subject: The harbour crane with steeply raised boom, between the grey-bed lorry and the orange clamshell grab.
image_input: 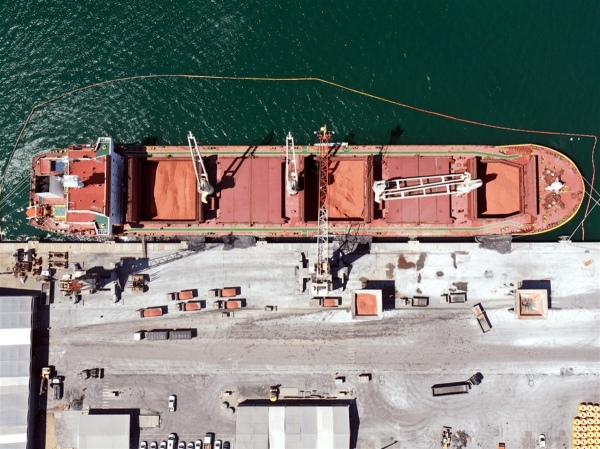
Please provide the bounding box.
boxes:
[55,261,118,306]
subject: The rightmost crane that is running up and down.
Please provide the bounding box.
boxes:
[301,121,347,298]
